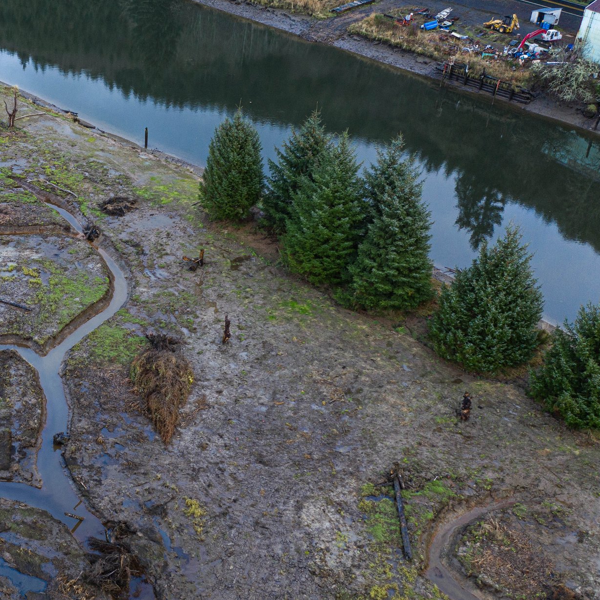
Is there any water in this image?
Yes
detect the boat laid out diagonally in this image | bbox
[434,4,452,18]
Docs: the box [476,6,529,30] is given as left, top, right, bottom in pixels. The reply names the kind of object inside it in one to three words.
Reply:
work vehicle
